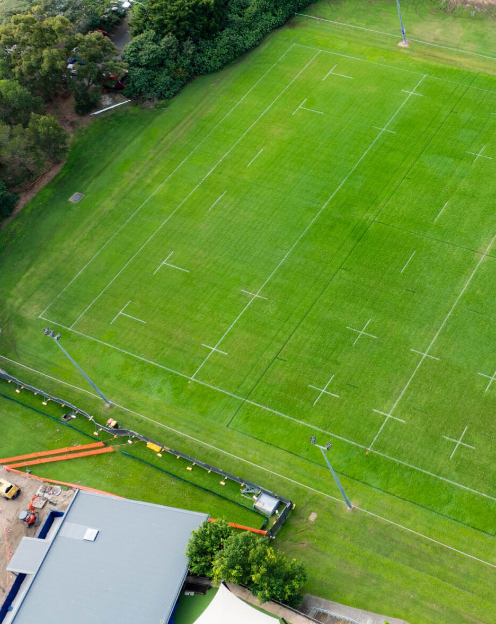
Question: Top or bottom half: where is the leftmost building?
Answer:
bottom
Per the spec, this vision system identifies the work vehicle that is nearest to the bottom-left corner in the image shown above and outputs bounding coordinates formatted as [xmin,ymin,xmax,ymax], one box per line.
[17,495,41,533]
